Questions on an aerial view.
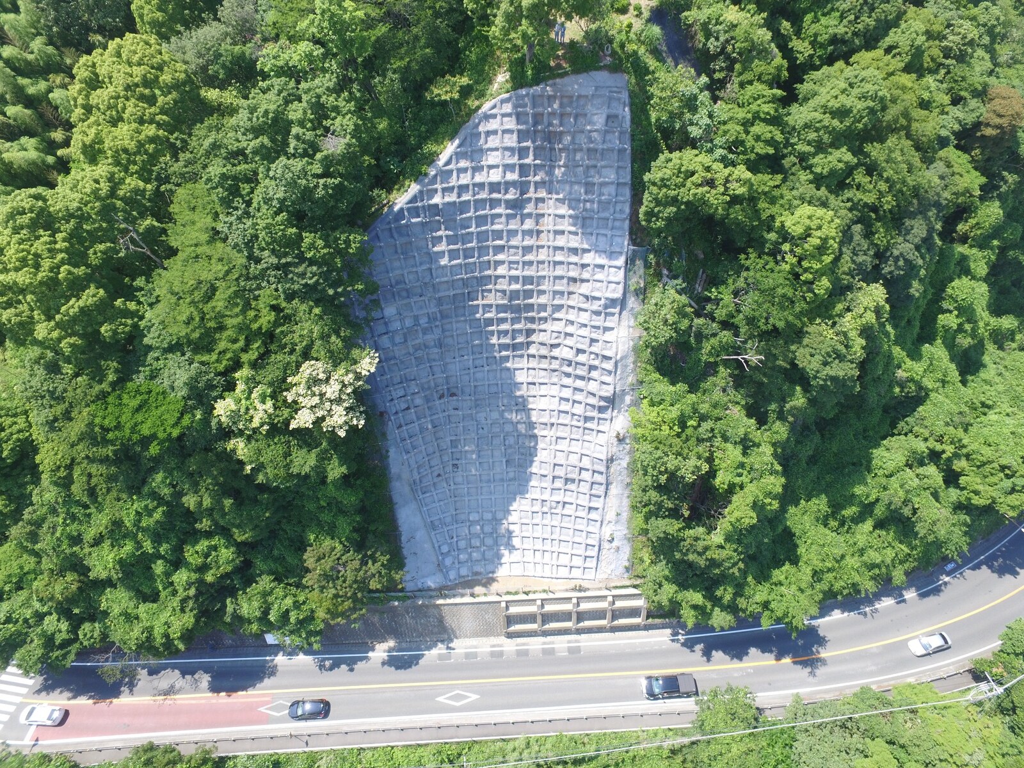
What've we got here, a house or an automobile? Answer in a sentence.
I can see an automobile in this picture.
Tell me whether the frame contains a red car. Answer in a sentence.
No, no red car is visible in the scene.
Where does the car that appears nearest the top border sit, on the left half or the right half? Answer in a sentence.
It is on the right.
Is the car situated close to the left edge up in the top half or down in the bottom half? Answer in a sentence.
The car situated close to the left edge sits in the bottom half of the picture.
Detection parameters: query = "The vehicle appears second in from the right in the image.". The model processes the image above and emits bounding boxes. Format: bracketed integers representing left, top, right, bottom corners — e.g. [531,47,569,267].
[641,674,697,698]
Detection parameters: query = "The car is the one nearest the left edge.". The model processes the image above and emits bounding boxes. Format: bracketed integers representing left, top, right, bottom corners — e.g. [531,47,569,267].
[18,703,70,727]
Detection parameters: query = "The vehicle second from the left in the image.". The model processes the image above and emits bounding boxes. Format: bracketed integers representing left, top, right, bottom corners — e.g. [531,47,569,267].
[288,697,331,721]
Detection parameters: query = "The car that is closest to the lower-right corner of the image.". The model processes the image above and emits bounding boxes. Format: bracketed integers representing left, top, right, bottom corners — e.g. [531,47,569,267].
[906,631,954,657]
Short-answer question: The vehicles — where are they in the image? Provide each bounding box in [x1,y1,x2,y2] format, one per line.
[288,697,331,721]
[641,674,697,698]
[18,703,70,727]
[906,631,954,657]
